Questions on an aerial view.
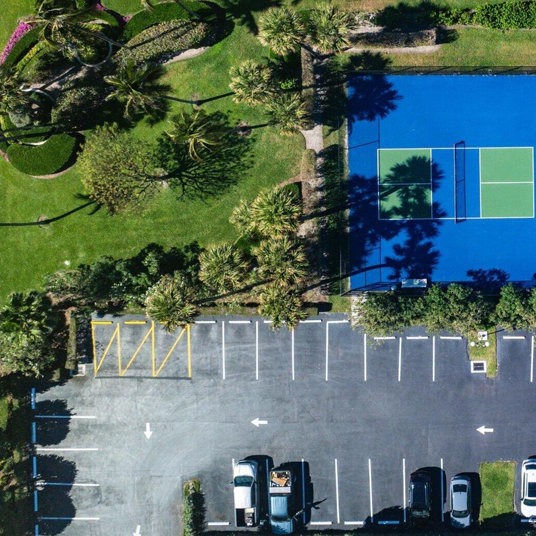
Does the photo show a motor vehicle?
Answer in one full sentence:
Yes, you can see a motor vehicle in this photo.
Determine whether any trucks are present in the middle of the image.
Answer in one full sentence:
No, looking in the middle of the image, there is no truck.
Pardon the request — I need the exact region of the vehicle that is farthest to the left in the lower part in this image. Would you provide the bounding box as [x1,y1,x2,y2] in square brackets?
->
[229,458,260,529]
